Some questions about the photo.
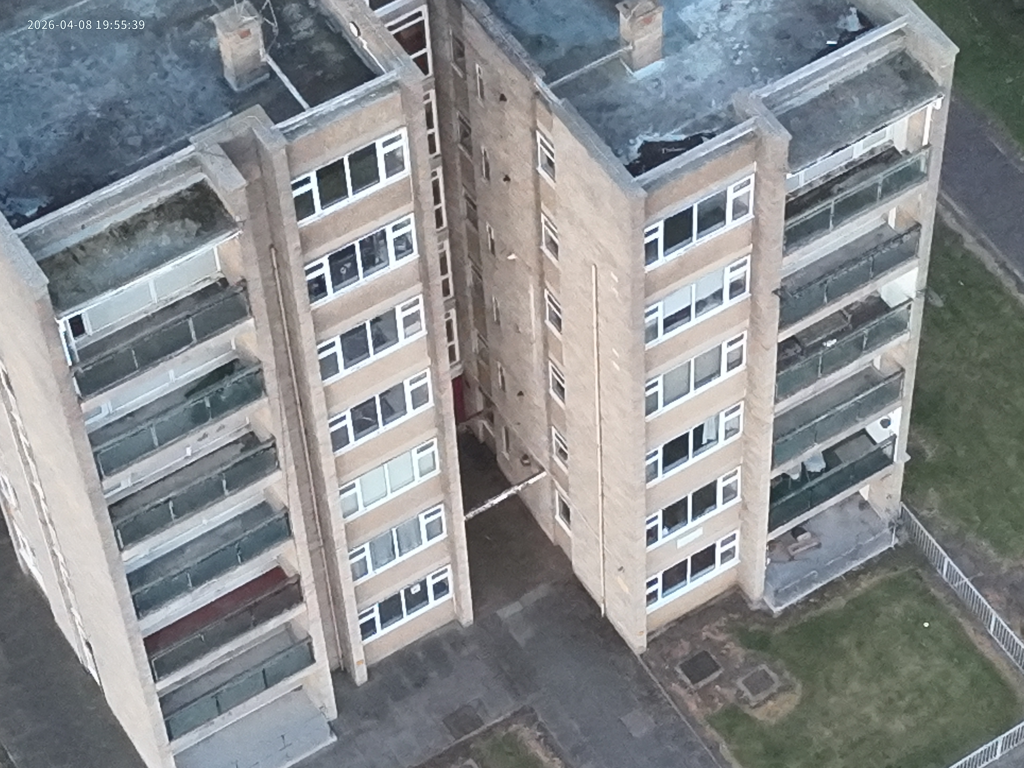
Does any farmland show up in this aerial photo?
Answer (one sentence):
No, the picture contains no farmland.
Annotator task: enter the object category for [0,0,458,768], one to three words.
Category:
building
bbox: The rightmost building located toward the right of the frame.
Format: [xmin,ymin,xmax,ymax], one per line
[427,0,959,653]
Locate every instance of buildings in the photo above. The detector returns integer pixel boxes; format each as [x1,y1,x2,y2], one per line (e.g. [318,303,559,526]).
[427,0,959,653]
[0,0,458,768]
